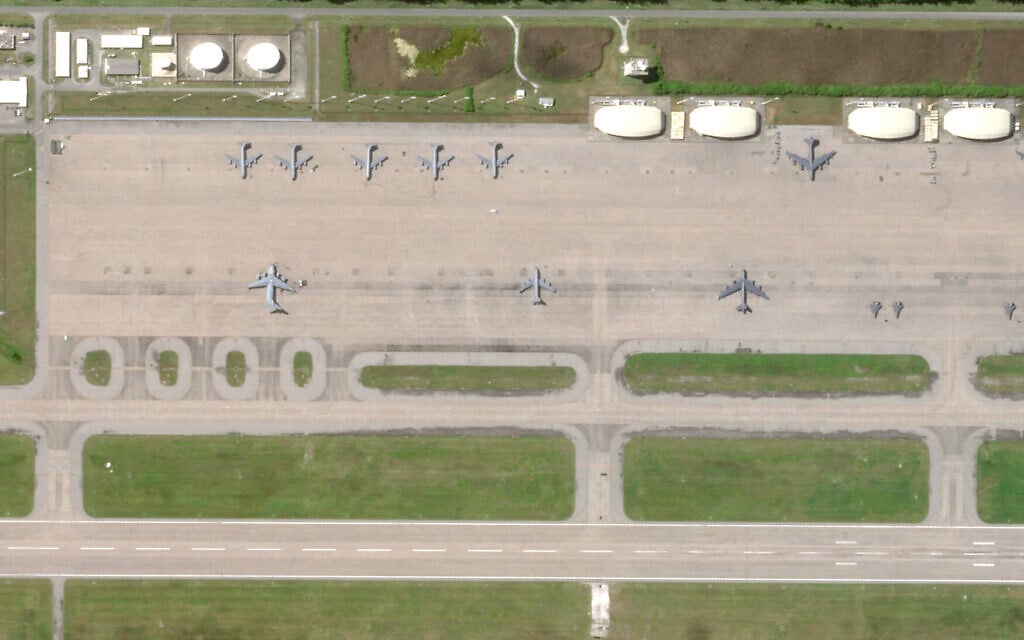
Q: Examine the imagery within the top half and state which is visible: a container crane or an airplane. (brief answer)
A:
airplane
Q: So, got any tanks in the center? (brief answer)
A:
No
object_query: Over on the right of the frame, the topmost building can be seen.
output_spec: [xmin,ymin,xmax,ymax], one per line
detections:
[624,57,649,75]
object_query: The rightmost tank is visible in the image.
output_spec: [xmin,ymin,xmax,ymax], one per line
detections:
[243,41,280,77]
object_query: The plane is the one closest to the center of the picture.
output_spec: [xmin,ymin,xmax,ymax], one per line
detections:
[519,267,556,304]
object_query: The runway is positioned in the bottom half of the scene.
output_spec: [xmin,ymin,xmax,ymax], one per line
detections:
[0,521,1024,582]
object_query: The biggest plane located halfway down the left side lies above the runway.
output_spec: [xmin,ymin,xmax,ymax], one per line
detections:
[249,264,296,309]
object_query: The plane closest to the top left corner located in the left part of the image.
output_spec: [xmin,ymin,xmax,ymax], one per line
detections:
[225,141,261,178]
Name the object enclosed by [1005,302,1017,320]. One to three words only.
airplane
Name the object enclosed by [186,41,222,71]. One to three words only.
storage tank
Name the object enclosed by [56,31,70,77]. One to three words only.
building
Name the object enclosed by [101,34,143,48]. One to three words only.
building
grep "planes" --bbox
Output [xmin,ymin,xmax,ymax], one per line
[350,142,387,180]
[417,142,453,180]
[519,267,556,304]
[476,141,513,179]
[718,270,769,313]
[249,264,296,309]
[225,141,261,178]
[786,136,837,181]
[275,142,311,180]
[870,301,882,319]
[1005,302,1017,320]
[893,301,904,319]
